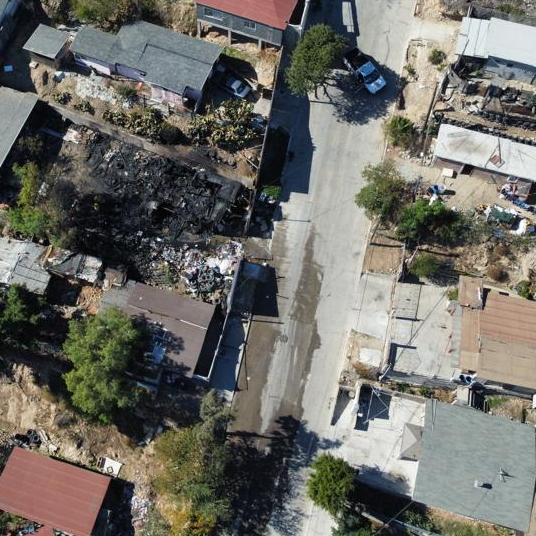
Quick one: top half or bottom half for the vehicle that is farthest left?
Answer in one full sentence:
The vehicle that is farthest left is in the top half of the image.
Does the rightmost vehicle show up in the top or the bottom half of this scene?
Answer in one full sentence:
The rightmost vehicle is in the top half of the image.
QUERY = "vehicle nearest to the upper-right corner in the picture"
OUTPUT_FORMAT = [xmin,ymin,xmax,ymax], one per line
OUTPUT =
[344,47,388,94]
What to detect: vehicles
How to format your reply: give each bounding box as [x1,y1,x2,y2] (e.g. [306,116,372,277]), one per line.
[212,60,258,103]
[344,47,388,94]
